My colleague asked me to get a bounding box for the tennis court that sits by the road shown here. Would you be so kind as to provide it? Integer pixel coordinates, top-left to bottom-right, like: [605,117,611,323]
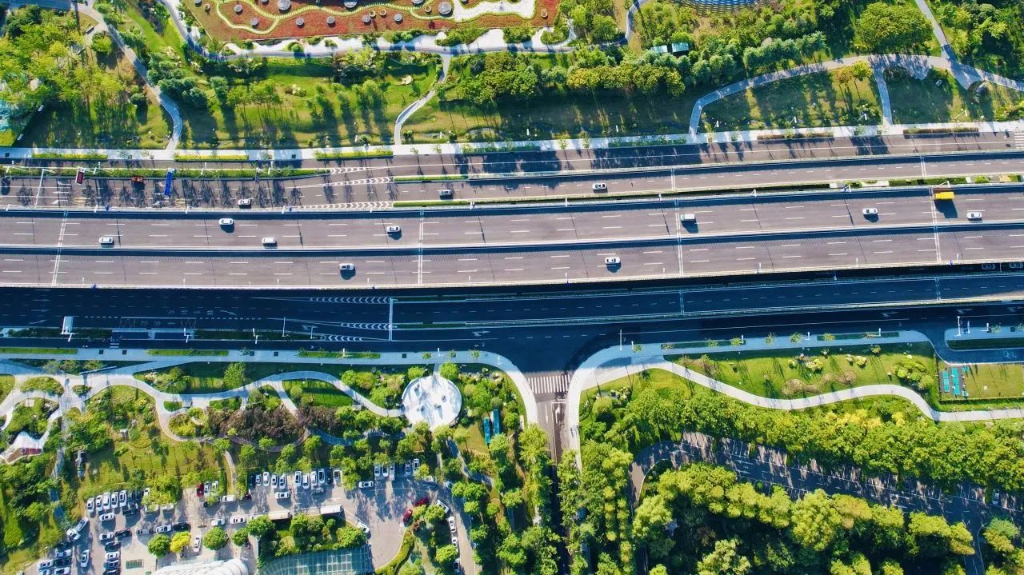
[941,366,966,398]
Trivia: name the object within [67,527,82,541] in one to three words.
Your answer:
car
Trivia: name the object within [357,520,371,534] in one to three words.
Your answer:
car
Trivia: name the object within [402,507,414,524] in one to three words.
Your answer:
vehicle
